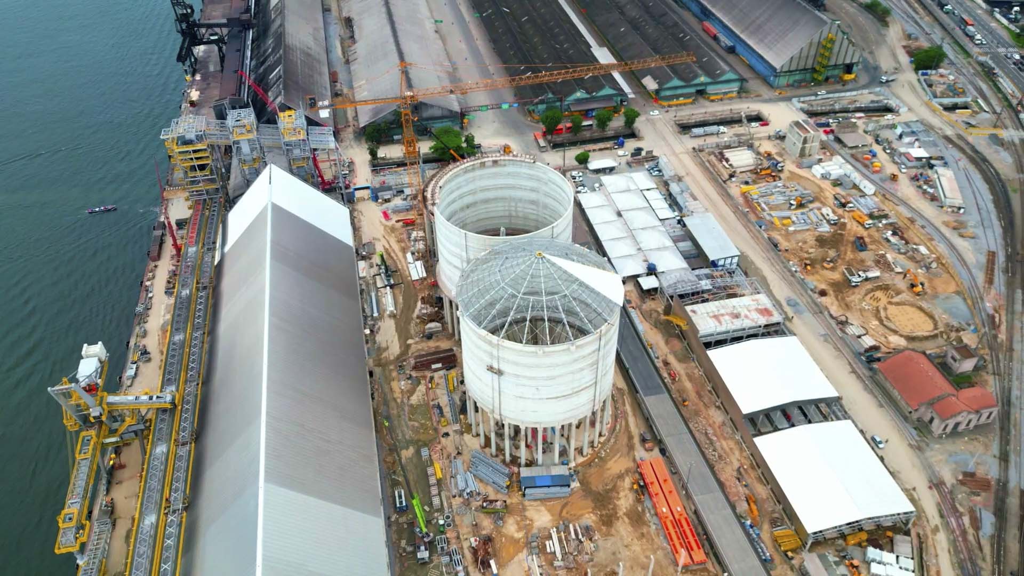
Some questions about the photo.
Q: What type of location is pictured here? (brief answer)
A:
industrial area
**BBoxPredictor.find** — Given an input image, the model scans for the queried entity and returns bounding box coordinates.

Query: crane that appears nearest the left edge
[153,158,180,263]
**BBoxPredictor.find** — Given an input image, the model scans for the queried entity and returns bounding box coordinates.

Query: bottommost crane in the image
[399,455,449,572]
